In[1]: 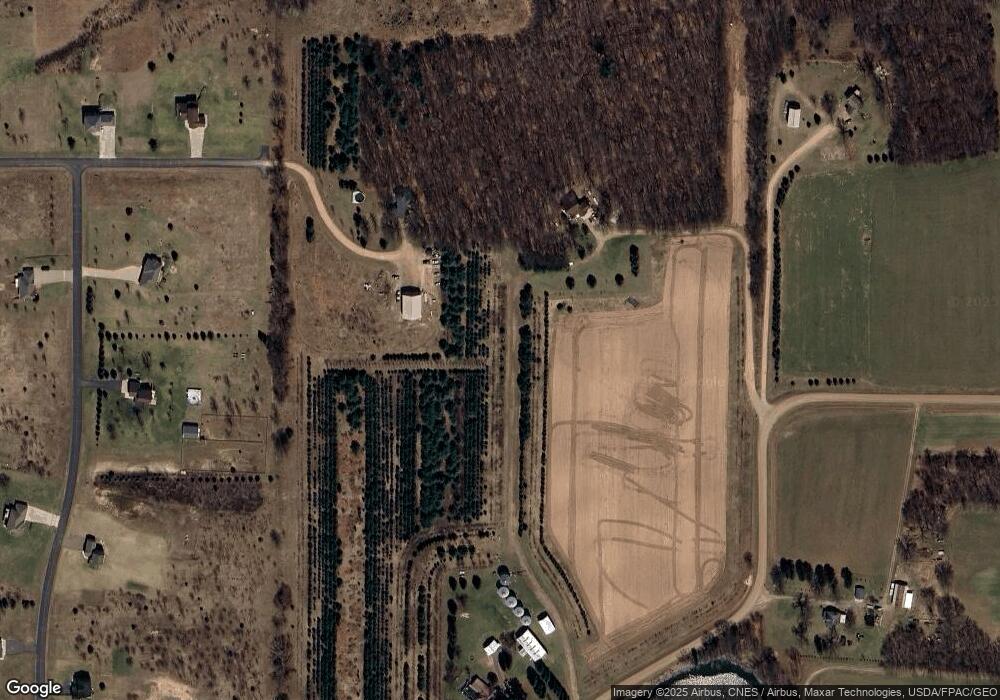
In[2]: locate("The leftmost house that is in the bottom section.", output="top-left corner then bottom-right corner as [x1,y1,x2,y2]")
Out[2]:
[3,500,29,529]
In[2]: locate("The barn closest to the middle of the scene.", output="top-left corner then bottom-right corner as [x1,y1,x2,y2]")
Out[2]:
[402,291,422,318]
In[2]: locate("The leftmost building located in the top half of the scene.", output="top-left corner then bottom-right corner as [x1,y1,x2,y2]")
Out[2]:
[16,266,34,293]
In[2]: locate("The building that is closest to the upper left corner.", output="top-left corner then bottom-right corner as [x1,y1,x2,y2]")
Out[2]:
[85,108,115,131]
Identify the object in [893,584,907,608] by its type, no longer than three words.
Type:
barn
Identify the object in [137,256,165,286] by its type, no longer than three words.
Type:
house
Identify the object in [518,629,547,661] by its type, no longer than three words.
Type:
barn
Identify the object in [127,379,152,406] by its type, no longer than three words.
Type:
house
